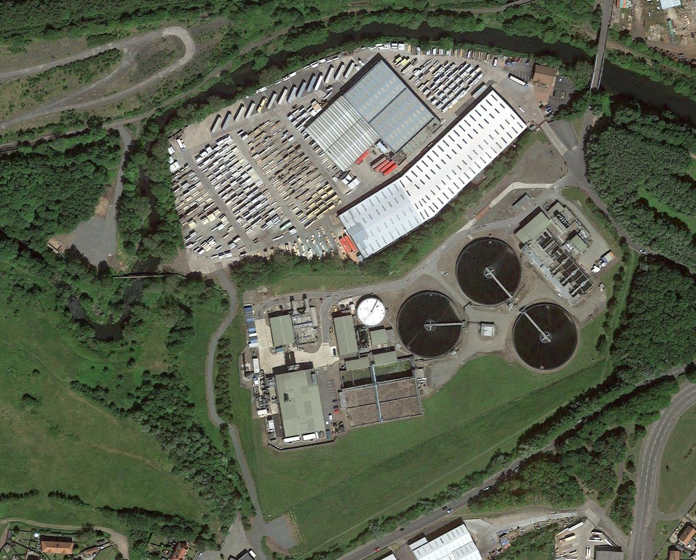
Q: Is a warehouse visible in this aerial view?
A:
Yes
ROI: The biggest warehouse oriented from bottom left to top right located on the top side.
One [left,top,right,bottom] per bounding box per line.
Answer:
[338,89,527,260]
